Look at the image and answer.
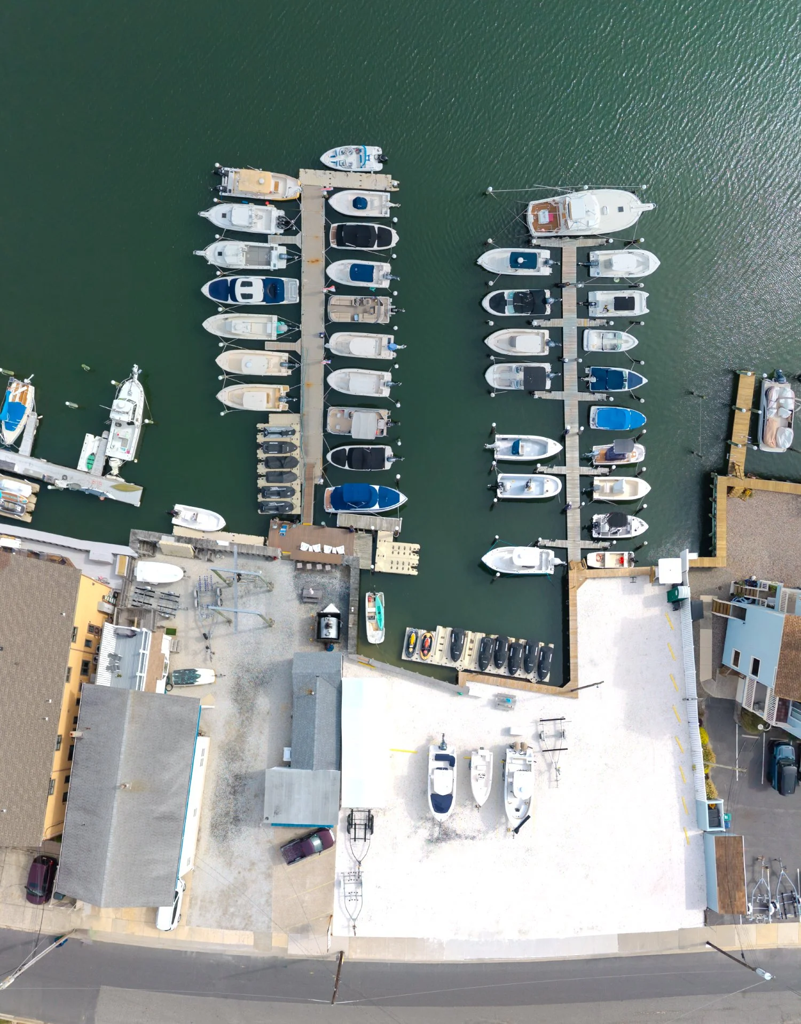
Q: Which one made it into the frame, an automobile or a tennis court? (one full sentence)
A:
I can see an automobile in this picture.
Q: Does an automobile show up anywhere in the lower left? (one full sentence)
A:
Yes, an automobile is visible in the lower left.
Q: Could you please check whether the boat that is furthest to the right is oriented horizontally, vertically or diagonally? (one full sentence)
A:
What the image shows is the boat that is furthest to the right lying vertically.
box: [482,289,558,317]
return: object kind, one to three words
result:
boat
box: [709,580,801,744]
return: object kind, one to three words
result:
house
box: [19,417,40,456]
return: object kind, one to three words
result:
pier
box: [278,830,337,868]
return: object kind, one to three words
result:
truck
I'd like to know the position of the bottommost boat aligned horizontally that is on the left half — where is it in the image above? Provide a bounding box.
[172,668,216,686]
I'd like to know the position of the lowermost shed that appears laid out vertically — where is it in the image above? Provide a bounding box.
[703,827,748,915]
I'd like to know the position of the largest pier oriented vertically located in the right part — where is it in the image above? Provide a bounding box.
[533,238,610,563]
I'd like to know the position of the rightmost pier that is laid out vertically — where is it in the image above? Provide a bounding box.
[723,372,755,476]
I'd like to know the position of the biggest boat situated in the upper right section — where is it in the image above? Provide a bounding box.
[522,178,655,237]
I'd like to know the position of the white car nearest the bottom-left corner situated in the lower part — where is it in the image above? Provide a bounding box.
[156,877,190,934]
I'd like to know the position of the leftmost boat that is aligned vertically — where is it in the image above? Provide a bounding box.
[0,369,38,444]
